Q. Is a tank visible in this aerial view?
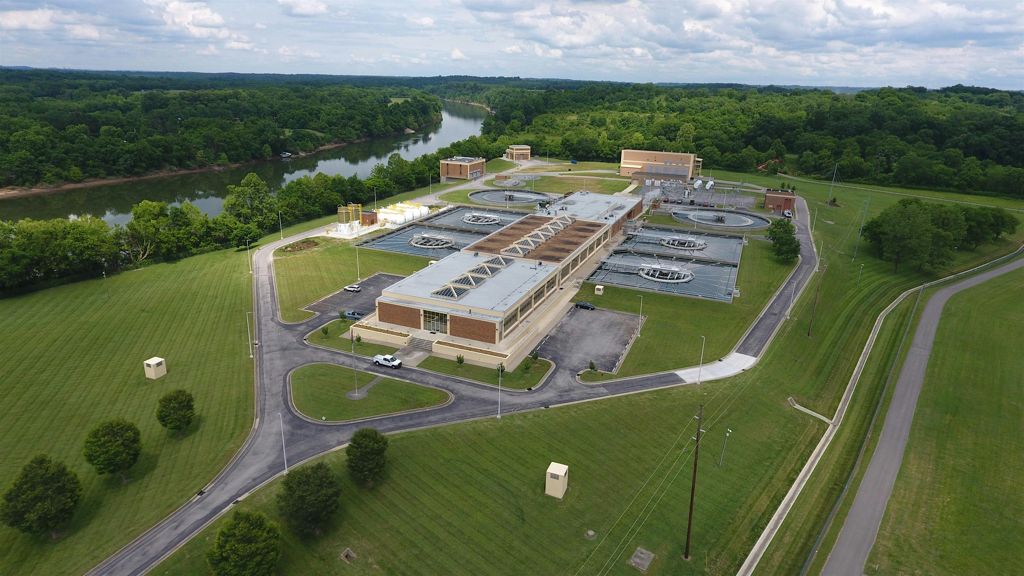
Yes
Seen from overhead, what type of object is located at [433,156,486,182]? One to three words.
building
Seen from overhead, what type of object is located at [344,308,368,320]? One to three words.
vehicle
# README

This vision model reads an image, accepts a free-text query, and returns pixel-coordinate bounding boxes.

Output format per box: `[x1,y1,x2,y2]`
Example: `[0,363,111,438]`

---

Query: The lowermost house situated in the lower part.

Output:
[543,463,568,498]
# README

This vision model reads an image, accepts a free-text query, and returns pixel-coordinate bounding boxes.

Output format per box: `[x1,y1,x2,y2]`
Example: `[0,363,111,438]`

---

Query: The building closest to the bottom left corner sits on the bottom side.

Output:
[141,354,169,379]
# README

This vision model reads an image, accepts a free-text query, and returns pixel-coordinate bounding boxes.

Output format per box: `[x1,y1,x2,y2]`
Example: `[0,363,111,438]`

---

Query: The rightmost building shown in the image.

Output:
[764,188,797,214]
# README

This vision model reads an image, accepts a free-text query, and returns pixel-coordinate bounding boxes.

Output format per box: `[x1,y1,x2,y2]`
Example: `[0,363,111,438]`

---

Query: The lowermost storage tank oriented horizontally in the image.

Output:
[586,244,740,304]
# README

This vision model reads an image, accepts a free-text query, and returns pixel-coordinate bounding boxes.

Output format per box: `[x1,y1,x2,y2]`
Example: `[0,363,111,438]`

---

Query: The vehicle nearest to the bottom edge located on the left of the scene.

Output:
[372,354,405,369]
